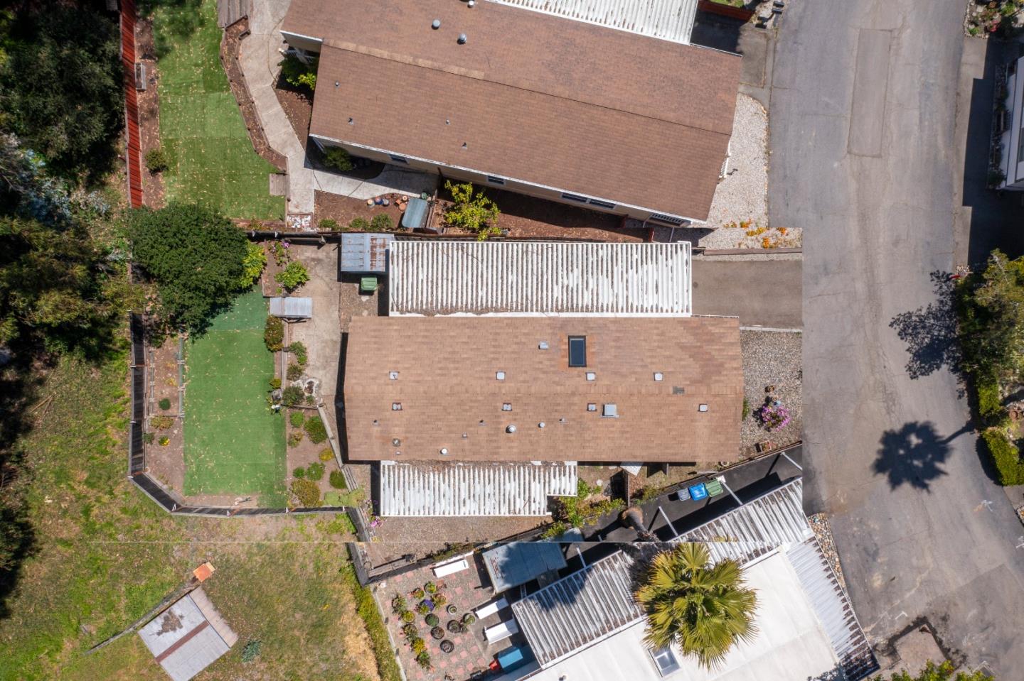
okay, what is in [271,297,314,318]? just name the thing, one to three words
building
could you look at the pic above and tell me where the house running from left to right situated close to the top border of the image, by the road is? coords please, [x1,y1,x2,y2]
[270,0,742,230]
